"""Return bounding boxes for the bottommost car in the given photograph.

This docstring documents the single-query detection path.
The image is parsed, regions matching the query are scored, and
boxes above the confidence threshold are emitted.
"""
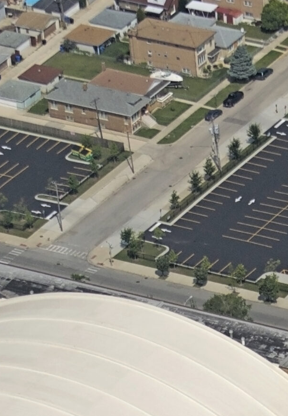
[205,109,224,122]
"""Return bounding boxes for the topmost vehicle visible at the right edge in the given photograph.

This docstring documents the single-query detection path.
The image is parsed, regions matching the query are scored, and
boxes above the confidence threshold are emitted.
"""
[257,68,275,82]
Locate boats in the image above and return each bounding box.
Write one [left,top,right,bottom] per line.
[151,70,187,88]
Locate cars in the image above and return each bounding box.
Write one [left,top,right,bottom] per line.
[257,68,275,82]
[205,109,224,122]
[224,90,244,107]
